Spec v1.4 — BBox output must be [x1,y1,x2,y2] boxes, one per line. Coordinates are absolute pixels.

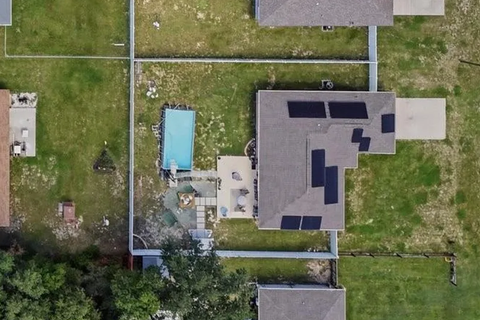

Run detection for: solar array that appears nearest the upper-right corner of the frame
[382,113,395,133]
